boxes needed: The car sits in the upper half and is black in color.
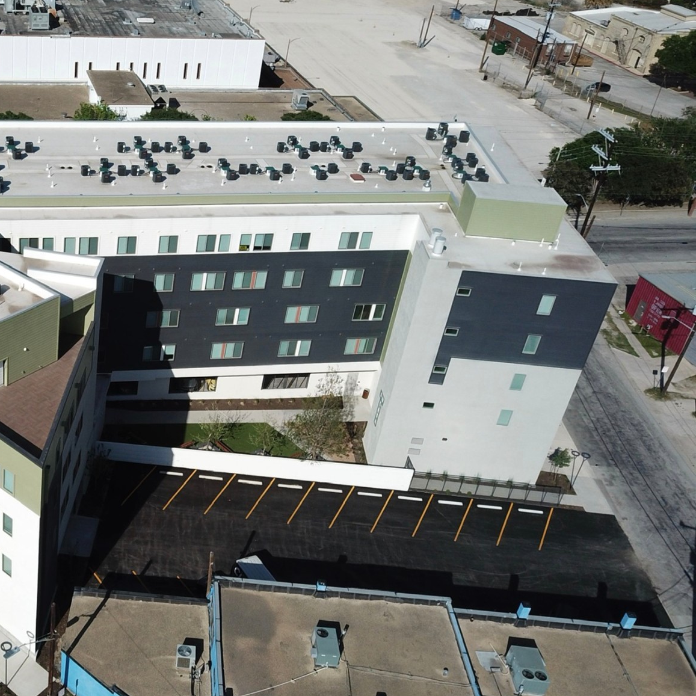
[589,80,610,92]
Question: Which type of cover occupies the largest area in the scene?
buildings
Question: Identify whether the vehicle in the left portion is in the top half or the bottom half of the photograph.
bottom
